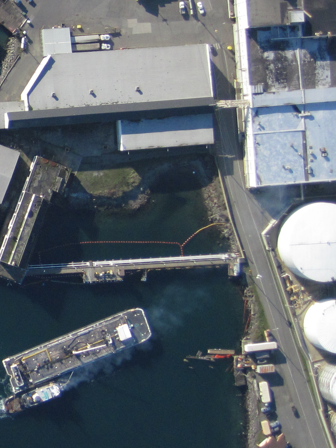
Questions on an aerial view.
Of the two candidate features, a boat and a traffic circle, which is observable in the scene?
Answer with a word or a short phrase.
boat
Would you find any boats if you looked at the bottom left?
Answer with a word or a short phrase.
Yes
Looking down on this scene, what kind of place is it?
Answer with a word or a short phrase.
industrial area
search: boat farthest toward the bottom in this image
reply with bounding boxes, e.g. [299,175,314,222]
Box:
[2,383,61,414]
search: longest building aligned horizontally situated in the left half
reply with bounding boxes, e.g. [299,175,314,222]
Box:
[4,44,214,121]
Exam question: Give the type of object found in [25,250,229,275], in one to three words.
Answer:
pier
